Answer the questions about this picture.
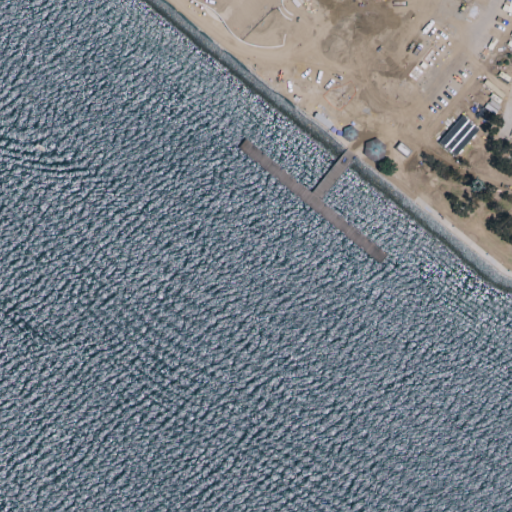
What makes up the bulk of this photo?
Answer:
water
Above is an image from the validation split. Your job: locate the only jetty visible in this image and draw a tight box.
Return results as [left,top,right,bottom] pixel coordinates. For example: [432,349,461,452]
[240,140,386,261]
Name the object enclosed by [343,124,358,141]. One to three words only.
gazebo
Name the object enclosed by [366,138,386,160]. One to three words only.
gazebo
